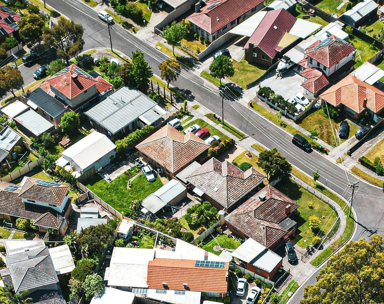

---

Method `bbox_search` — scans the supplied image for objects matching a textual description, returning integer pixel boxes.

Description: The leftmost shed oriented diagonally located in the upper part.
[5,91,55,145]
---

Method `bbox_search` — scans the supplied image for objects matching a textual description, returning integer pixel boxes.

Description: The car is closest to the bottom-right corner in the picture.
[285,242,297,264]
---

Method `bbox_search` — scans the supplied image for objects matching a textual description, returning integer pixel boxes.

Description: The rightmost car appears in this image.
[352,126,375,140]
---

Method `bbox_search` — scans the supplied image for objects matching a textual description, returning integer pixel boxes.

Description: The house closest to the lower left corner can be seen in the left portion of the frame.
[1,240,77,304]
